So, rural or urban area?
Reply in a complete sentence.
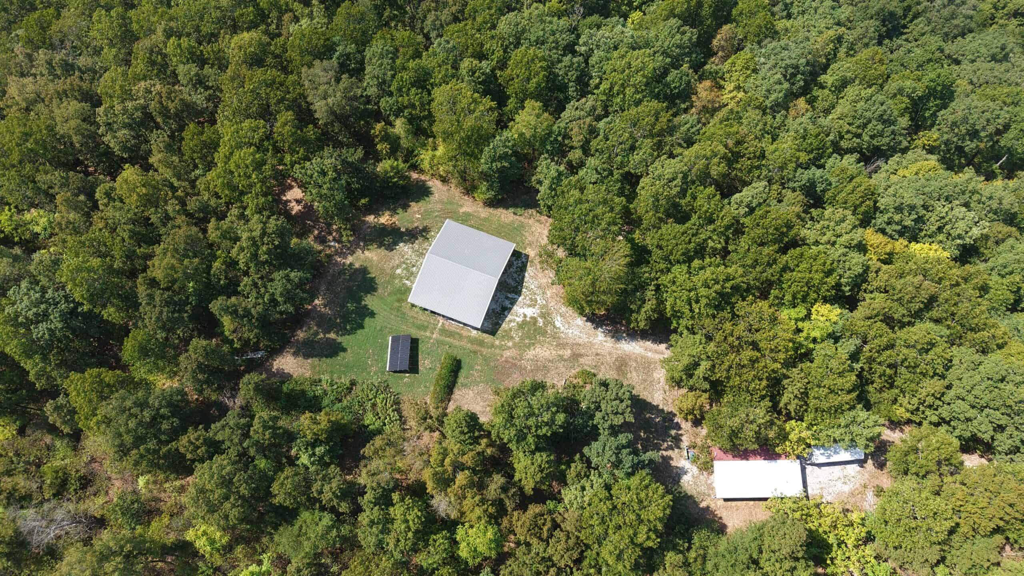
The area shown here is rural.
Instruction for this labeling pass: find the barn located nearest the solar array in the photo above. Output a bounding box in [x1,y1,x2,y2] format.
[407,219,517,332]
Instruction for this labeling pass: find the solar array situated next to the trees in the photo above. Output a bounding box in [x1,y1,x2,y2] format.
[387,333,409,371]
